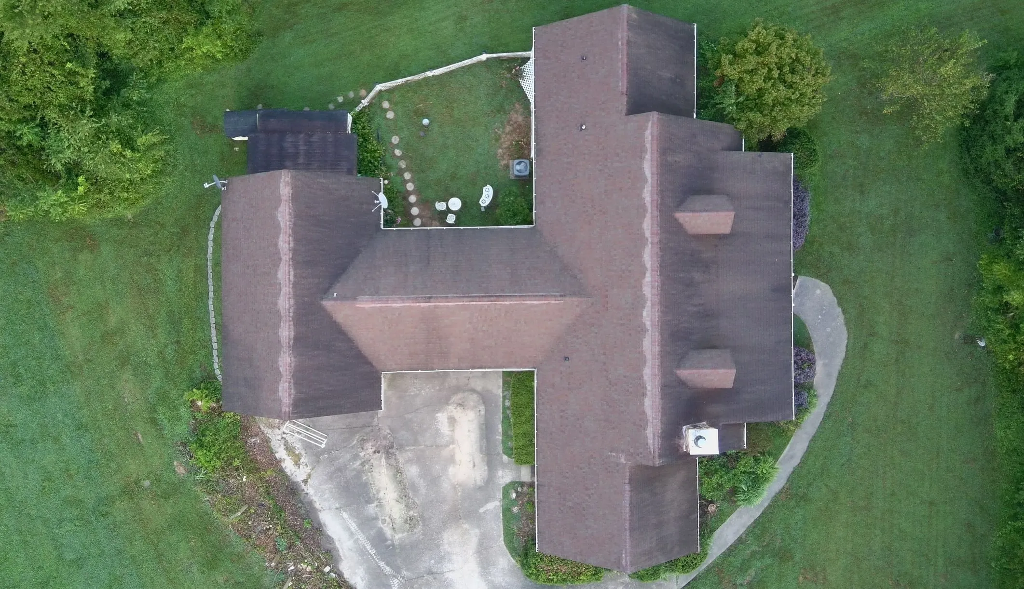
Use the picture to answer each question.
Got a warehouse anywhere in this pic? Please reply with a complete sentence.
No, no warehouse is visible in the view.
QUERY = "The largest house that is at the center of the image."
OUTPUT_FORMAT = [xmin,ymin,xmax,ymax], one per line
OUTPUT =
[221,3,796,573]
